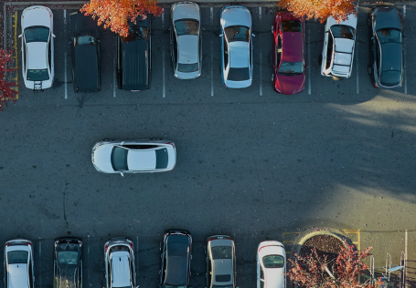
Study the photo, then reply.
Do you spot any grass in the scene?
No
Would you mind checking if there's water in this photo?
No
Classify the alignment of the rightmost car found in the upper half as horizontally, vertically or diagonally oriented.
vertically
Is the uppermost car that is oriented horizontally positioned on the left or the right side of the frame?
left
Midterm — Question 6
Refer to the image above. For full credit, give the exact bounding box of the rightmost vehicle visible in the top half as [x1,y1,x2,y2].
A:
[367,4,408,89]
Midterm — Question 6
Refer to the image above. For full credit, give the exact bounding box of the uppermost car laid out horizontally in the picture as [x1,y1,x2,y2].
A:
[92,137,177,177]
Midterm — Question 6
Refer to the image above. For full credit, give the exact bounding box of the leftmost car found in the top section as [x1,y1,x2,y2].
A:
[17,4,56,89]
